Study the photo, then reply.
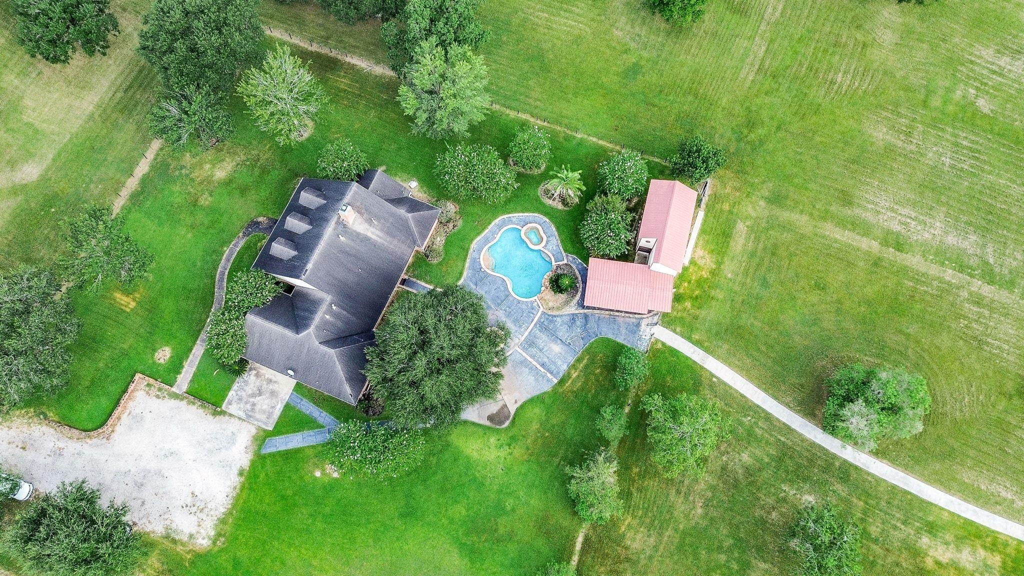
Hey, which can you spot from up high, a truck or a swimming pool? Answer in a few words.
swimming pool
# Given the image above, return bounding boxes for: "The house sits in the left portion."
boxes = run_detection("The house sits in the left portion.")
[238,166,442,406]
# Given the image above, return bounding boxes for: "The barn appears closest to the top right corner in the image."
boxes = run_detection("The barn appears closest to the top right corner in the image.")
[630,180,697,276]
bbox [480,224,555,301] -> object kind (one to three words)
swimming pool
